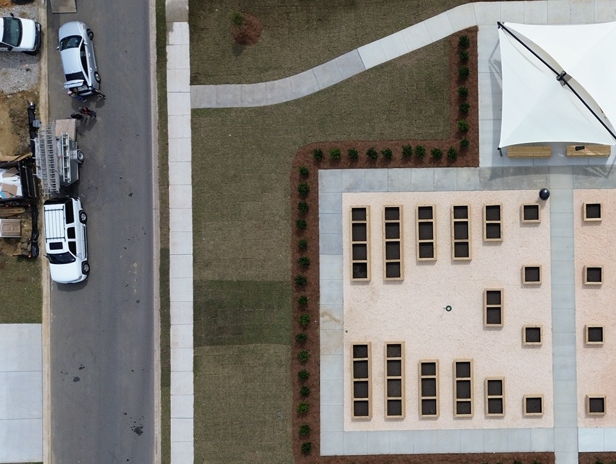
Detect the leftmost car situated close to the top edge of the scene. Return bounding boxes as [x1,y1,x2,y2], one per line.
[0,12,44,56]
